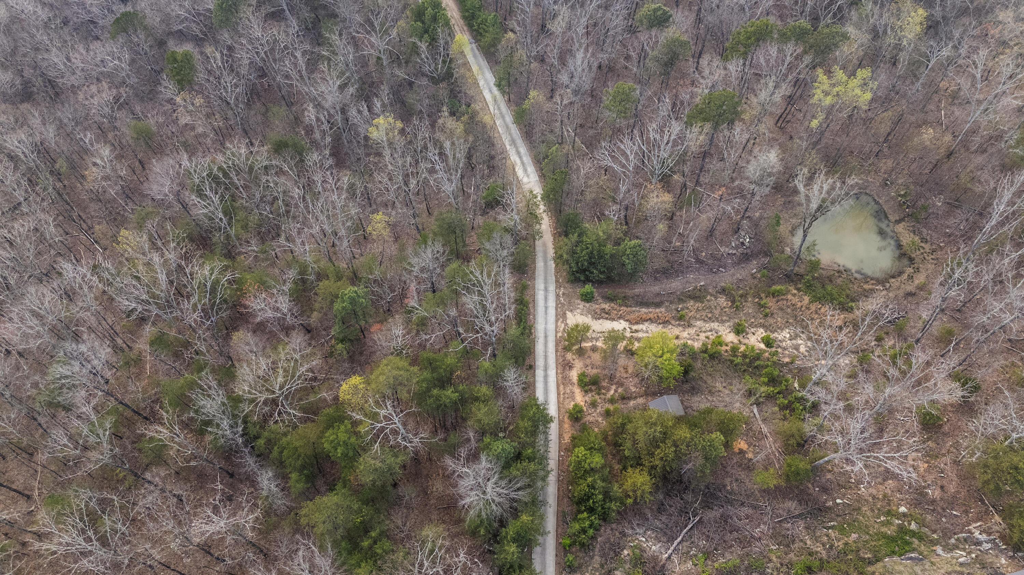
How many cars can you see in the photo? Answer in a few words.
0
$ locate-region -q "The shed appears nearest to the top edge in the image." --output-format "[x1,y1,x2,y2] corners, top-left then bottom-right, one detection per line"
[647,394,683,424]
